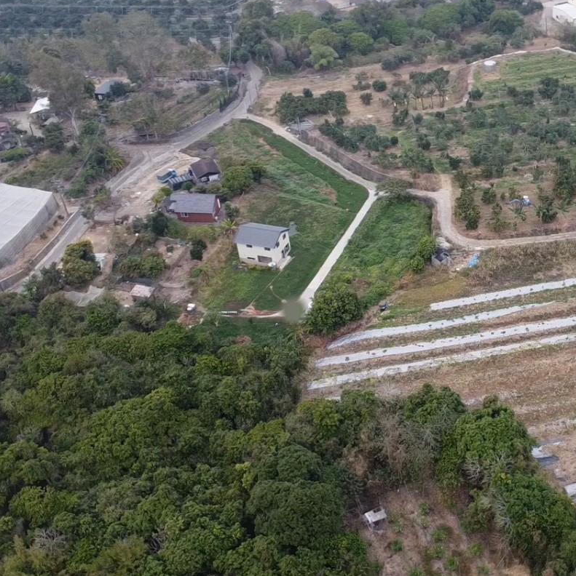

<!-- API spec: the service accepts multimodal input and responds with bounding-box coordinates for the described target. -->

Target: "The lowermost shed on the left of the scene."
[125,279,158,302]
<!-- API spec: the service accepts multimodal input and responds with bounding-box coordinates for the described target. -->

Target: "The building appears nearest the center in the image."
[232,224,298,270]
